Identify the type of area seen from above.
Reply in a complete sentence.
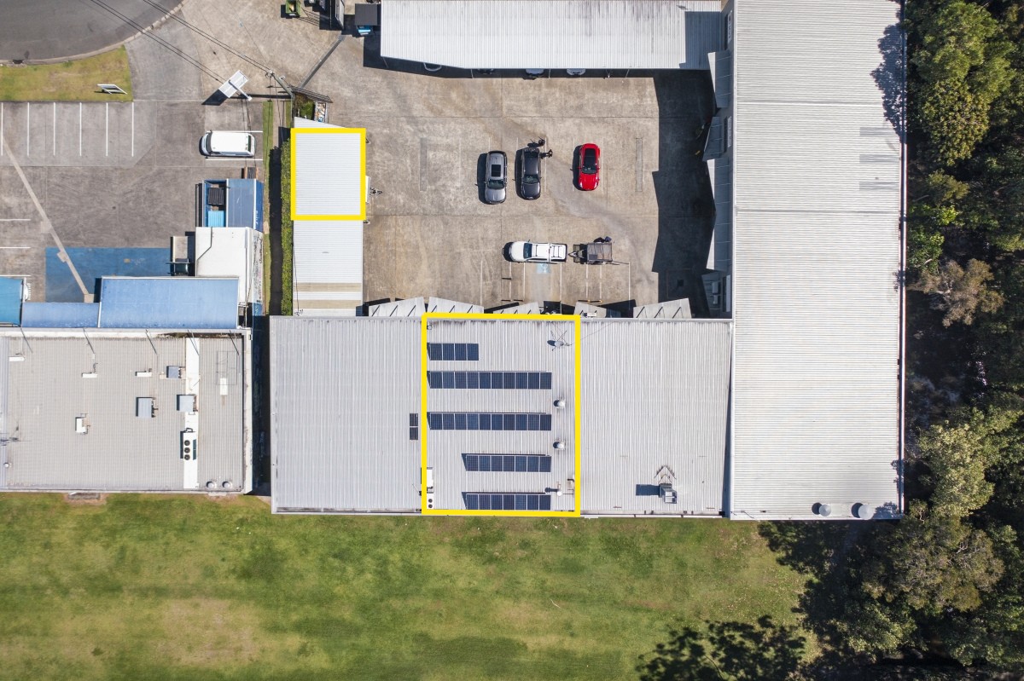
The area seen from above is an industrial area.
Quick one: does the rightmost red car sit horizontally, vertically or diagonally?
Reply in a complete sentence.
Seen from above, the rightmost red car lies vertically.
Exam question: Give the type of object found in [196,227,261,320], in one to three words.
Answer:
building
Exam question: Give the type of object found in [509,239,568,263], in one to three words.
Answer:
car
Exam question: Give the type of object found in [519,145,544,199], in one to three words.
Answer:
car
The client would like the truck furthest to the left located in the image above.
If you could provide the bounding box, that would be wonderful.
[162,231,191,277]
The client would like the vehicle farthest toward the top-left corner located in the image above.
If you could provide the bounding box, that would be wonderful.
[198,129,254,155]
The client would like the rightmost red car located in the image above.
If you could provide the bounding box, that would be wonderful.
[578,141,603,190]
